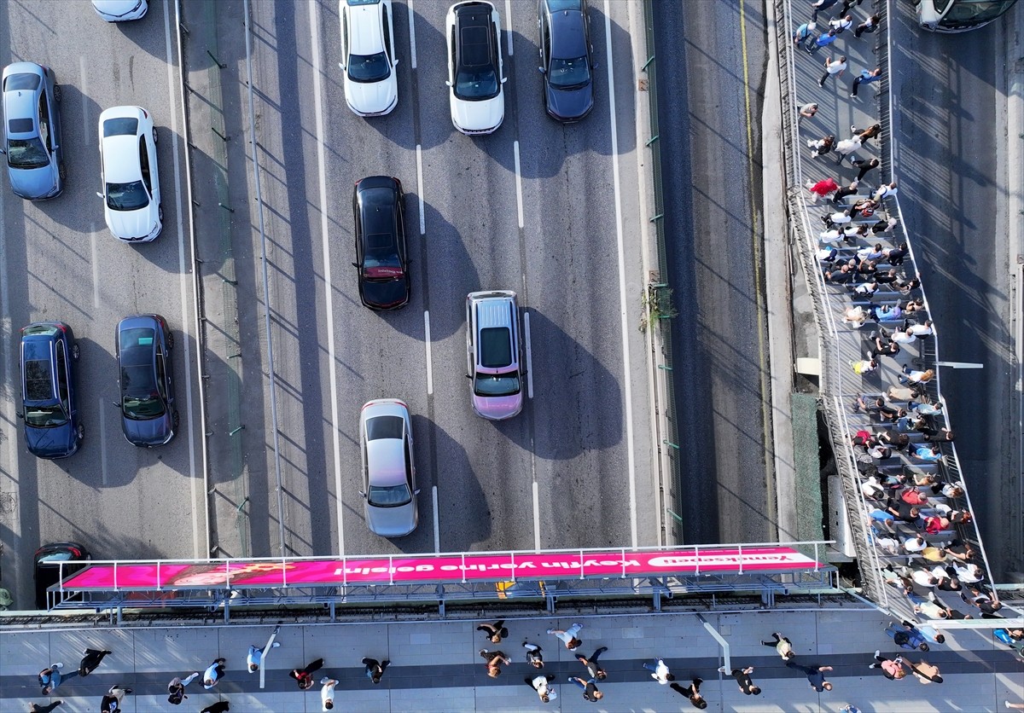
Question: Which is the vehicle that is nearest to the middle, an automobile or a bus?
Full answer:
In the photo, the vehicle that is nearest to the middle shows up as an automobile.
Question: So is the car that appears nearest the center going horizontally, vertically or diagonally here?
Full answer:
I'd say the car that appears nearest the center is aligned vertically in the picture.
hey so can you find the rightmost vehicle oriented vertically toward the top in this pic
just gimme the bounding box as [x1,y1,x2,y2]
[536,0,600,127]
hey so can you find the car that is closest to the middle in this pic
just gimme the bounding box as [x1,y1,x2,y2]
[464,290,529,420]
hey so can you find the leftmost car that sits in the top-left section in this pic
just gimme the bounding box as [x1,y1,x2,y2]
[0,63,70,200]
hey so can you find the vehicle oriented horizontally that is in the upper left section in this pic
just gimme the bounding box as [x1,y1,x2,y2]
[94,0,153,26]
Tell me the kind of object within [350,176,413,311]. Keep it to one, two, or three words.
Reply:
car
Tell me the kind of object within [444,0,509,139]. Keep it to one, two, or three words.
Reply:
car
